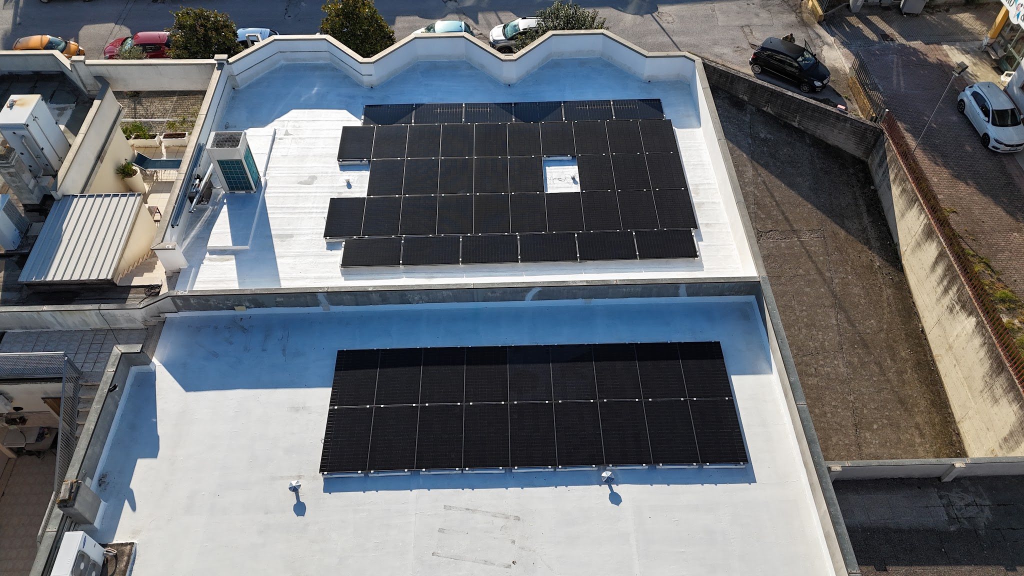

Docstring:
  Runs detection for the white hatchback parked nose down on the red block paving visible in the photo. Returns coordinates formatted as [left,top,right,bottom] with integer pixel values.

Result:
[959,84,1024,154]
